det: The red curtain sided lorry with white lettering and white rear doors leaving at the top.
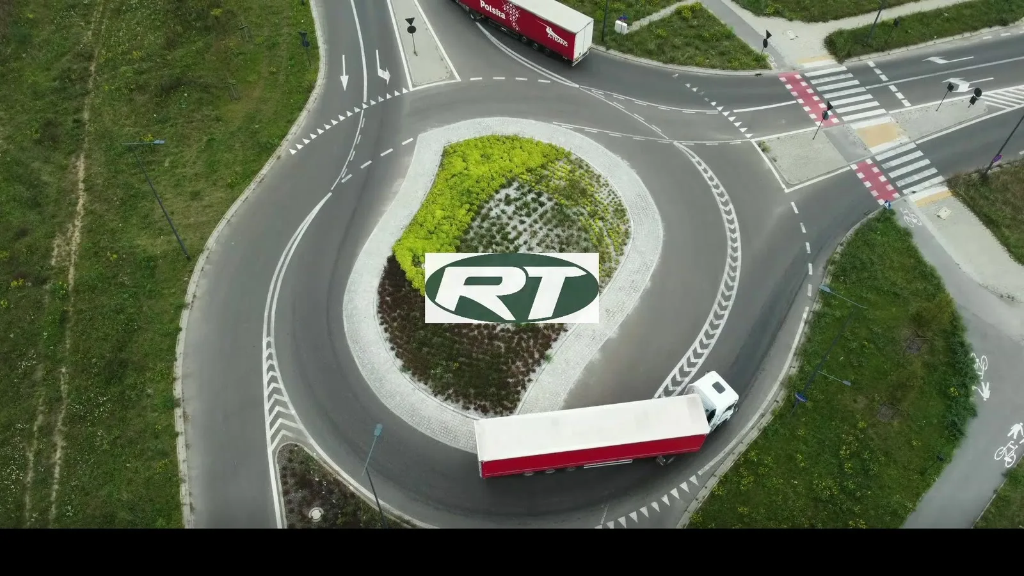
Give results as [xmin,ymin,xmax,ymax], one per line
[436,0,594,67]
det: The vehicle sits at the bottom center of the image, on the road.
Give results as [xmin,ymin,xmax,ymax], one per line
[475,367,744,483]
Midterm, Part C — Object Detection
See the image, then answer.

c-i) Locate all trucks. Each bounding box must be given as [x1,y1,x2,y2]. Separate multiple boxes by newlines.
[436,0,594,67]
[475,367,744,483]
